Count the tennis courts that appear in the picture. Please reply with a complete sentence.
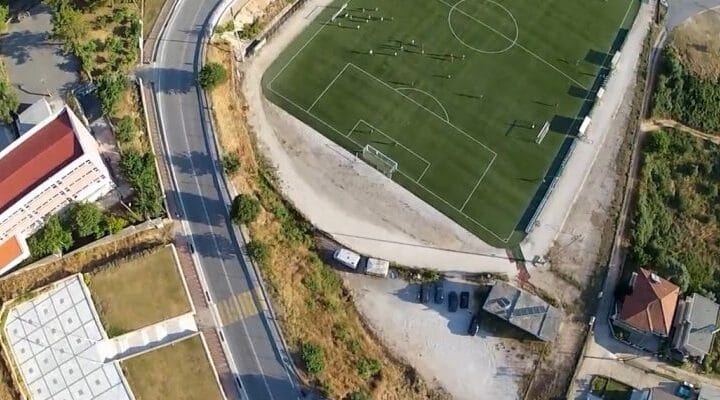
The count of tennis courts is 0.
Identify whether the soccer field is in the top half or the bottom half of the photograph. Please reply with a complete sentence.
It is in the top half that the soccer field appears.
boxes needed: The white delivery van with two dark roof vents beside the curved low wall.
[335,249,361,269]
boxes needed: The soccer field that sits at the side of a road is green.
[262,0,641,262]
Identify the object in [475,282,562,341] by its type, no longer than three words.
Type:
shed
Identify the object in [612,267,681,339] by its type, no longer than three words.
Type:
house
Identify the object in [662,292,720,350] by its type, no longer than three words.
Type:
house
